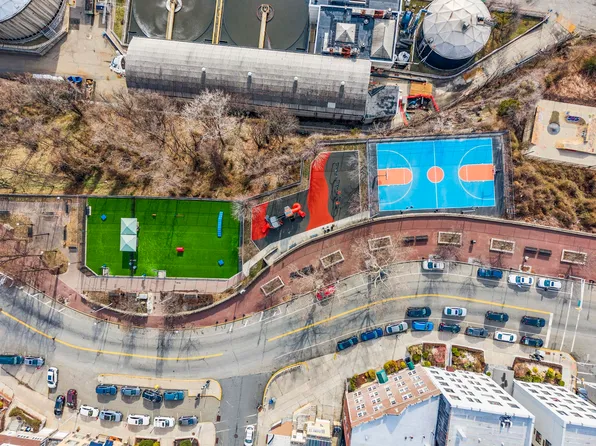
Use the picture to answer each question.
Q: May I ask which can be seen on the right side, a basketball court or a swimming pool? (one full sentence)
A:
The one visible on the right side is a basketball court.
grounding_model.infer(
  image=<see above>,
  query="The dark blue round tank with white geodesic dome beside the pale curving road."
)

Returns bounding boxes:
[408,0,499,72]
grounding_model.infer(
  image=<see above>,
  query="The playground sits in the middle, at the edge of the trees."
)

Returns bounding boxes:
[251,150,360,252]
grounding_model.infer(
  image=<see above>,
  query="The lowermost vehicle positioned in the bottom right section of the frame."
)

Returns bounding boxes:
[573,383,591,400]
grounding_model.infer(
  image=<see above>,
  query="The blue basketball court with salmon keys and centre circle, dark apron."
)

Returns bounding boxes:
[368,133,506,218]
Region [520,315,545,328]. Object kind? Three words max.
vehicle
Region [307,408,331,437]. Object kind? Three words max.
house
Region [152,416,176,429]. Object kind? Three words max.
vehicle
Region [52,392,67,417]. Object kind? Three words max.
car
